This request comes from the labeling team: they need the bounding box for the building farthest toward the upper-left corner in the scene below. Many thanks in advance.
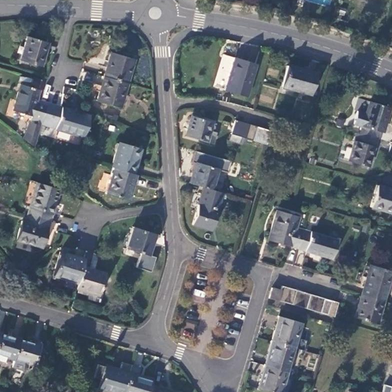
[16,38,52,70]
